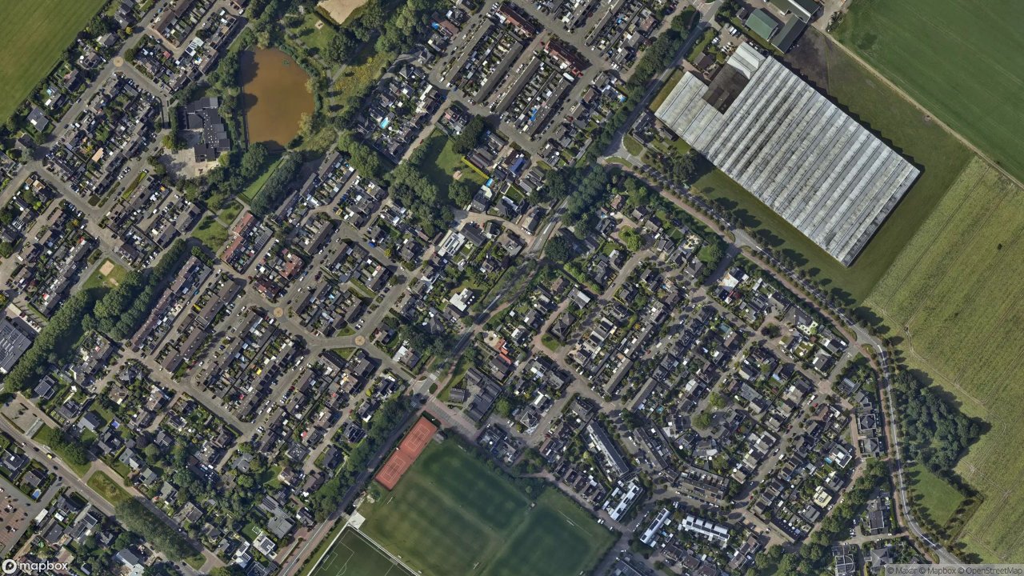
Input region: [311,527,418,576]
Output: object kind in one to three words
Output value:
soccer field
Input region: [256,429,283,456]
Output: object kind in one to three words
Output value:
house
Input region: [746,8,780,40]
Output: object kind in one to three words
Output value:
barn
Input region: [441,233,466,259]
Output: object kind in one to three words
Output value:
building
